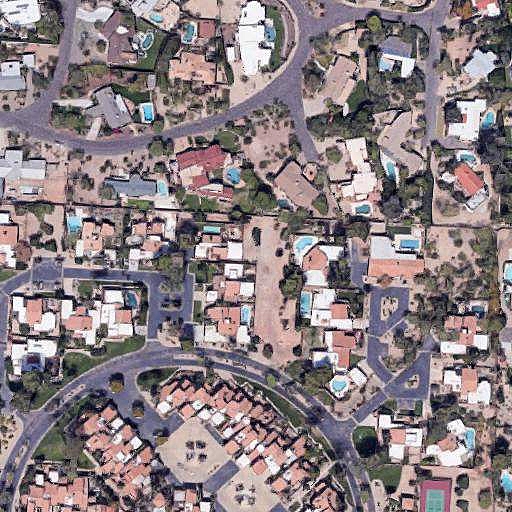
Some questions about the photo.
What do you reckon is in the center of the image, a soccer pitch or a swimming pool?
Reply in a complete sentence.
It is a swimming pool that can be seen in the center of the image.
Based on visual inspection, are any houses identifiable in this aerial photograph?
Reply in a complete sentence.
Yes, I can see a house in this picture.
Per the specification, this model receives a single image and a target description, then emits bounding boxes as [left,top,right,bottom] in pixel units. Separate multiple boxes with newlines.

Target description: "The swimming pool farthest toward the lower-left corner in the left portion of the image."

[124,290,139,311]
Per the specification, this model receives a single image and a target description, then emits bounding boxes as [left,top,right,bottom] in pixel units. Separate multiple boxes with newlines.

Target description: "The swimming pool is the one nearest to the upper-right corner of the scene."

[480,108,496,128]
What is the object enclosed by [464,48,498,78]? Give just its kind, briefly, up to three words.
house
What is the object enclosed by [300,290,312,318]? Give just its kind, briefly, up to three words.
swimming pool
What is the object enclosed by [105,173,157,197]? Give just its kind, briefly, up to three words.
house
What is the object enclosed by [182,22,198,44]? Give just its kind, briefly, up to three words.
swimming pool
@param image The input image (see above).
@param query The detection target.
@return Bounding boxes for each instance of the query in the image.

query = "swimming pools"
[224,164,245,187]
[328,374,350,396]
[124,290,139,311]
[470,302,488,318]
[294,236,318,256]
[394,235,422,252]
[140,103,154,123]
[182,22,198,44]
[377,58,395,74]
[264,20,276,42]
[140,32,154,50]
[157,177,168,198]
[300,290,312,318]
[241,304,252,324]
[464,428,476,452]
[202,226,222,234]
[149,12,164,22]
[458,150,479,166]
[382,155,397,183]
[480,108,496,128]
[67,208,82,234]
[500,469,512,494]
